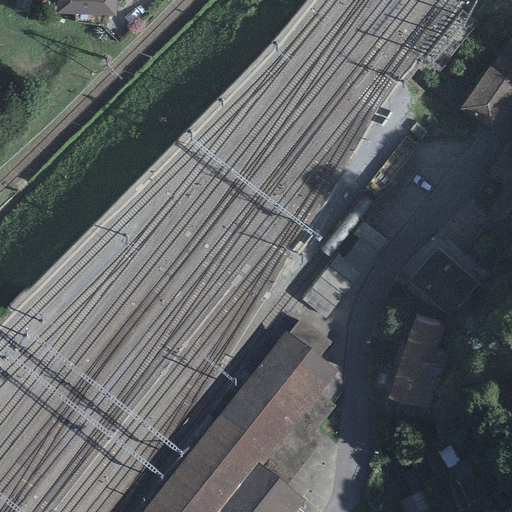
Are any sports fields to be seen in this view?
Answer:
No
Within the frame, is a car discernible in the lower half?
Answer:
No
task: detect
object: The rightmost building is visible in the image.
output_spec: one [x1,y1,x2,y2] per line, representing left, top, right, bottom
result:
[462,65,512,130]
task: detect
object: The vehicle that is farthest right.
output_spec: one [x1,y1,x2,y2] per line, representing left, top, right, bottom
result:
[412,174,434,194]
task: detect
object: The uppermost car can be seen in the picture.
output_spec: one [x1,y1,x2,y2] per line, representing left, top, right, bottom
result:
[124,4,146,24]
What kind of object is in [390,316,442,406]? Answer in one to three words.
house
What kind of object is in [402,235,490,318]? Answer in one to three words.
house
